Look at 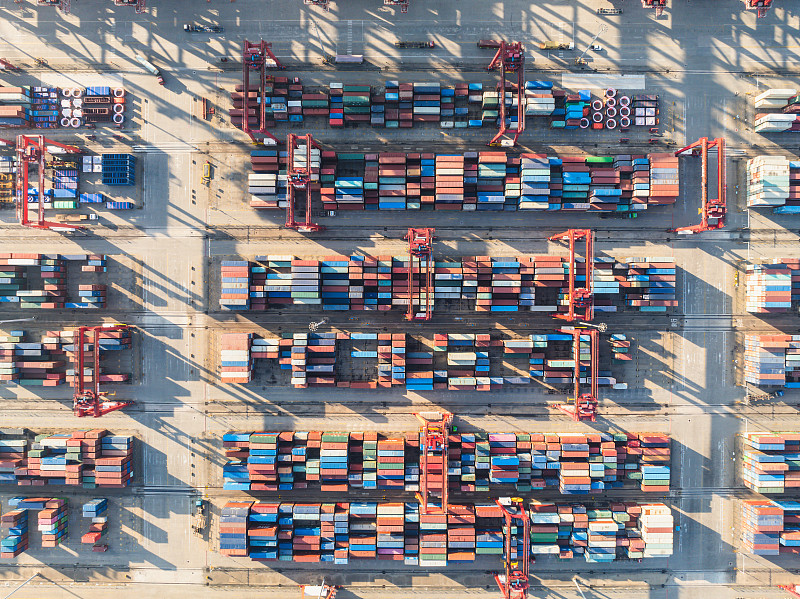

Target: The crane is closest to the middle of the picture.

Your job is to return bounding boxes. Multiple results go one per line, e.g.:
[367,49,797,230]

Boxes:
[401,225,436,323]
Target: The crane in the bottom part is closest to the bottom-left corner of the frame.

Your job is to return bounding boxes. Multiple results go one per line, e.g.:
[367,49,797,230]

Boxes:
[76,326,138,421]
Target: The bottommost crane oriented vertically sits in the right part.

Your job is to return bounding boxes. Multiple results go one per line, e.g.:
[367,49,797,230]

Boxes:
[489,496,530,599]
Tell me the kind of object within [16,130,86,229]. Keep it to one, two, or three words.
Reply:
crane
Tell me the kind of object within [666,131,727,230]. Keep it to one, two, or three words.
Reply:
crane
